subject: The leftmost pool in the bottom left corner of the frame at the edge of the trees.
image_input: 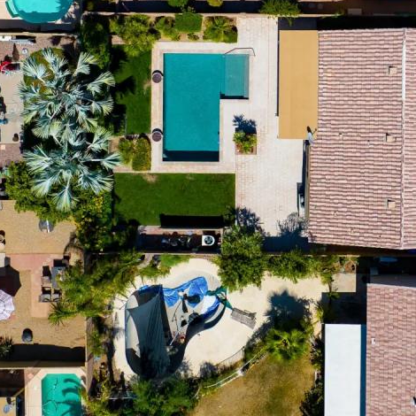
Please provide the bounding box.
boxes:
[38,370,85,416]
